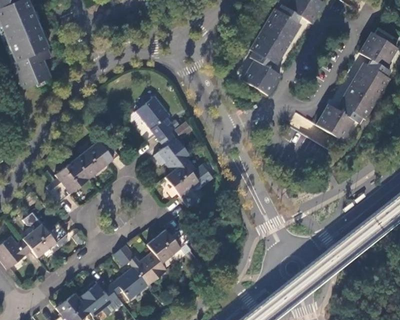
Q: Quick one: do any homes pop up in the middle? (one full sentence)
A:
Yes, the scene does show a home in the middle.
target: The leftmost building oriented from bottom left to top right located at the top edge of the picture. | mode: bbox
[237,0,326,98]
